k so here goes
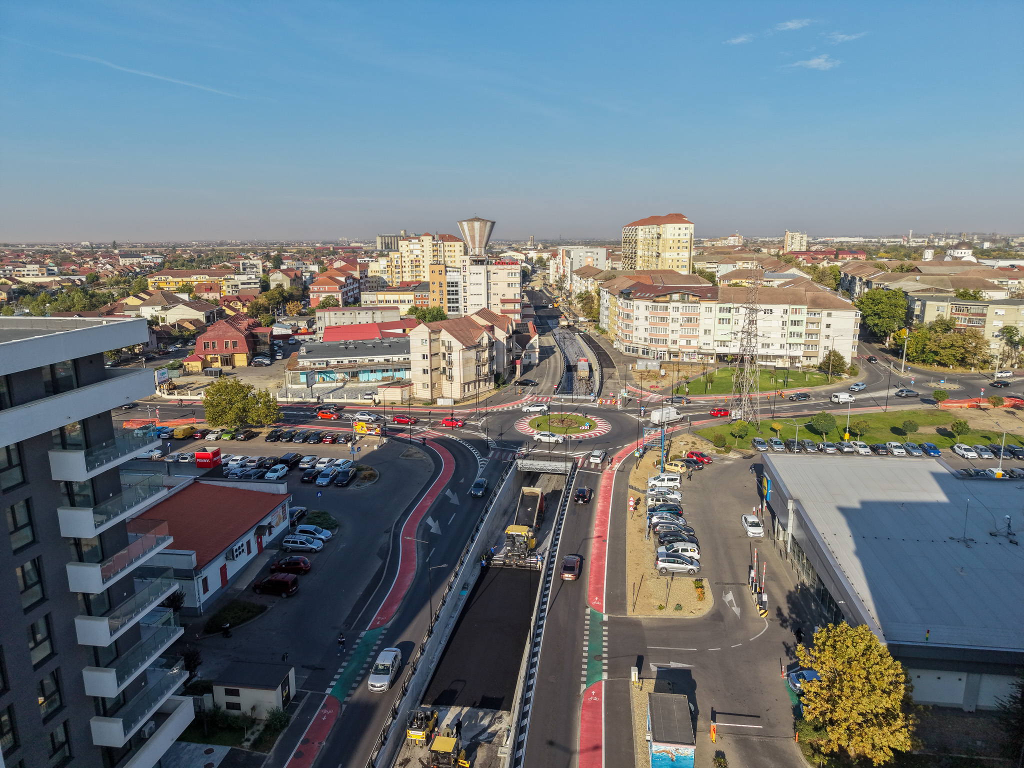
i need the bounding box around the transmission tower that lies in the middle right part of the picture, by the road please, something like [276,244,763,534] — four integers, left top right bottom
[721,267,790,431]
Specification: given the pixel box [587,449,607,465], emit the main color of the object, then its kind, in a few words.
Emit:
white car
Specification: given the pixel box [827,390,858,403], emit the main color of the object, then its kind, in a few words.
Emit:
white vehicle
